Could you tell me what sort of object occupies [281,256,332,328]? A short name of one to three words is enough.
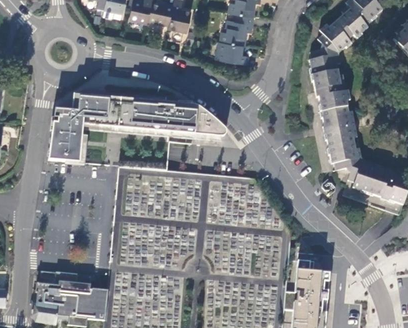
building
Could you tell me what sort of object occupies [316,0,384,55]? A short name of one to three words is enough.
house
